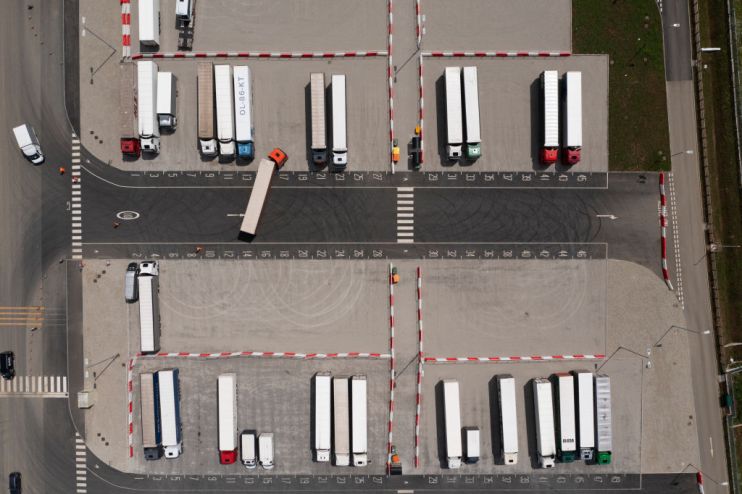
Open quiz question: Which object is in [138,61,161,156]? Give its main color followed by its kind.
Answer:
white truck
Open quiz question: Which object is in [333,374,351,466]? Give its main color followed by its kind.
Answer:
white vehicle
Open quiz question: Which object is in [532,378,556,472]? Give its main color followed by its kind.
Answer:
white truck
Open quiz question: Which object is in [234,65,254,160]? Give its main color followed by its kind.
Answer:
white vehicle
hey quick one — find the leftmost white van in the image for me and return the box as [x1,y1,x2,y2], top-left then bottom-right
[14,125,42,162]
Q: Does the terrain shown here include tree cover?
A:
No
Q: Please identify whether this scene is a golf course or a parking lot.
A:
parking lot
